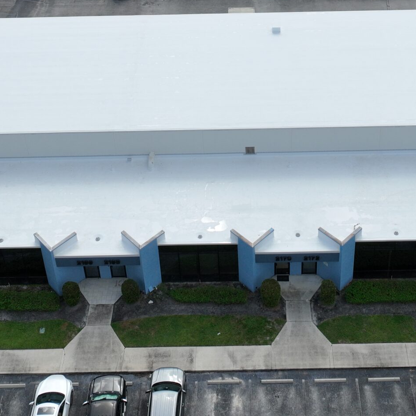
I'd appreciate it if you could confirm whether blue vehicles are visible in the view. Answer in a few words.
No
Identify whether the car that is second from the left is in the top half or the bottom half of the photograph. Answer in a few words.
bottom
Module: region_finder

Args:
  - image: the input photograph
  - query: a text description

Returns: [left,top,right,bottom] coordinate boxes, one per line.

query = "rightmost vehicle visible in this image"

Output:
[144,368,187,416]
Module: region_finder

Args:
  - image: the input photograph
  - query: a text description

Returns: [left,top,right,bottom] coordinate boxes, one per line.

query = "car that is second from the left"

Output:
[84,375,127,416]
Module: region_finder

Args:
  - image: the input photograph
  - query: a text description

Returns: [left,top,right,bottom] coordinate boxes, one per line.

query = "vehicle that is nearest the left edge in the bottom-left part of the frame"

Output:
[29,374,70,416]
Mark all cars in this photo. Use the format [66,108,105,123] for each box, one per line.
[84,375,127,416]
[144,368,187,416]
[29,374,70,416]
